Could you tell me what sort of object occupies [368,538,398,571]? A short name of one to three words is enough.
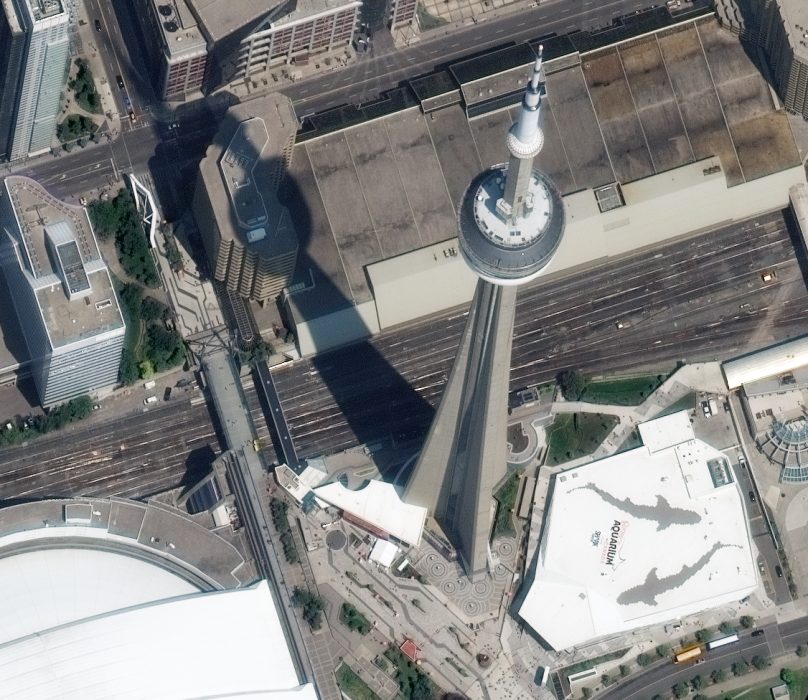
tent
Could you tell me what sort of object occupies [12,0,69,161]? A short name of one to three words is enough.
building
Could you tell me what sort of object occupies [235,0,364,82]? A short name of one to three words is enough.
building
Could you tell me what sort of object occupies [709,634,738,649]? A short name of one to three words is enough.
vehicle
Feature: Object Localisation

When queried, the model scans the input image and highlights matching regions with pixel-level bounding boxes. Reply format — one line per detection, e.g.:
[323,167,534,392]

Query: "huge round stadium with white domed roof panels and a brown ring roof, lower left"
[0,494,316,700]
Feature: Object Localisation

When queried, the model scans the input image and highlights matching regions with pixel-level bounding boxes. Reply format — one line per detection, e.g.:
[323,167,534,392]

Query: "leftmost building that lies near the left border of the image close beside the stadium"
[0,175,125,405]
